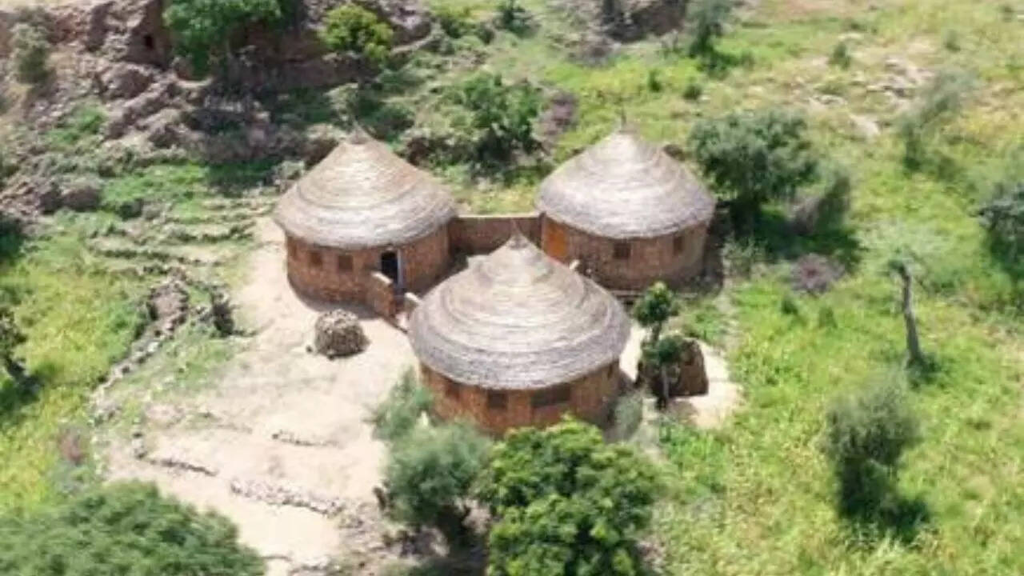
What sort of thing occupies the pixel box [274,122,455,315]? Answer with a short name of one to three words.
shed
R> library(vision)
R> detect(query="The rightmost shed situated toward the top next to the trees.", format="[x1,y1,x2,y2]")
[539,106,714,297]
